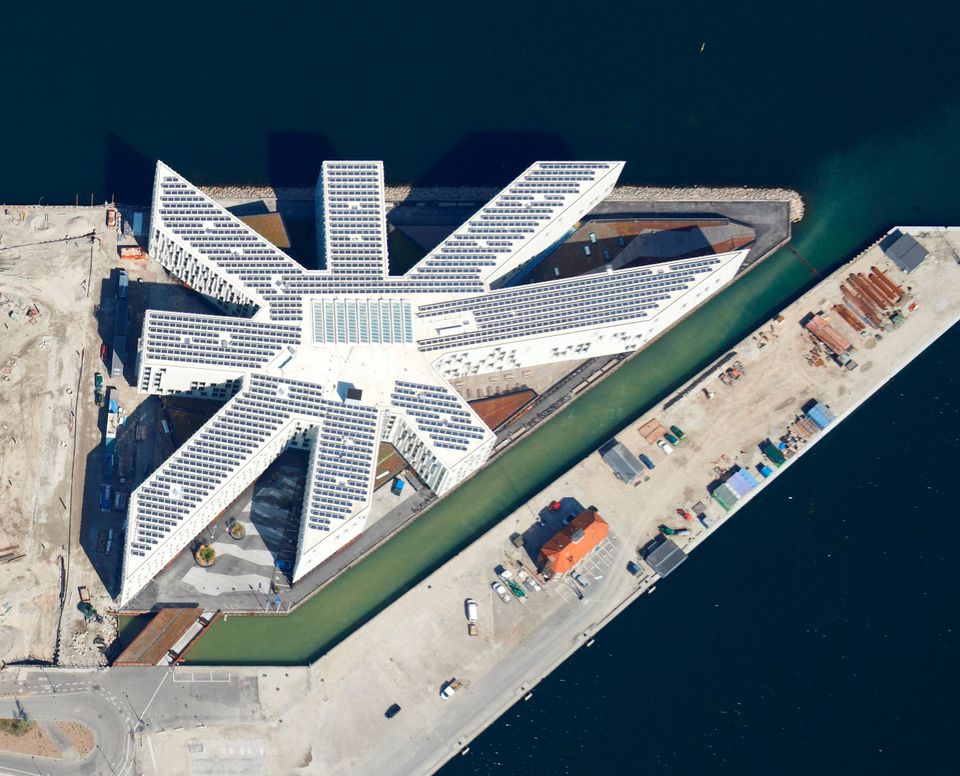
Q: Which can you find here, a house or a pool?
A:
house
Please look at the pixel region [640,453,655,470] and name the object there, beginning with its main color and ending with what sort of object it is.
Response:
blue car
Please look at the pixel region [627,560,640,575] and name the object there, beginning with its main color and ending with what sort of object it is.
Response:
blue vehicle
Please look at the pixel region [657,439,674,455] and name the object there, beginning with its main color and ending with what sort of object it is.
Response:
white vehicle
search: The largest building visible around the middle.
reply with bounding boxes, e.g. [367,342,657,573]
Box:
[119,160,755,605]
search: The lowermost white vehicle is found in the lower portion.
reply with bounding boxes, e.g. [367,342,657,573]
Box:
[441,679,461,696]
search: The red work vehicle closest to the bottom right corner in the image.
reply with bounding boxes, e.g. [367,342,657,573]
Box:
[680,508,697,525]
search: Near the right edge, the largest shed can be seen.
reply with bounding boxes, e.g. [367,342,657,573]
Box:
[883,231,928,278]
